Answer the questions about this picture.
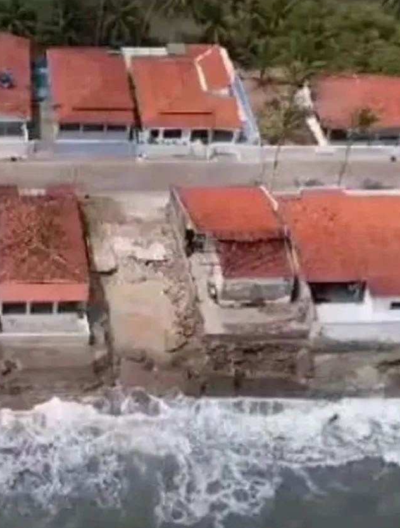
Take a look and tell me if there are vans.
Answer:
No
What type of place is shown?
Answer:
residential area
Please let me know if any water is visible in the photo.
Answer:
Yes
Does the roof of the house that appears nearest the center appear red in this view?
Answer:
Yes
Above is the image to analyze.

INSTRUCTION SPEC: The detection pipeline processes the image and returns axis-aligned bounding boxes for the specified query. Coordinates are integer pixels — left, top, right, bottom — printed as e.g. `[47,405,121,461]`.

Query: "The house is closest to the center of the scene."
[183,186,307,333]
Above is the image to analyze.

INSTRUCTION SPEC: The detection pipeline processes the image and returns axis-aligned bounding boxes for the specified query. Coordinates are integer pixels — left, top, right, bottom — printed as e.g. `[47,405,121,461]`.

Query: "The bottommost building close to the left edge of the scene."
[0,184,100,339]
